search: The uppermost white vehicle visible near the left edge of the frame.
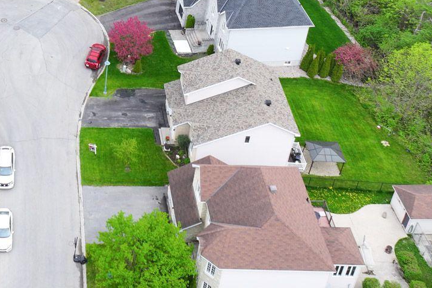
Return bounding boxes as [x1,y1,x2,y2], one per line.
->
[0,149,18,191]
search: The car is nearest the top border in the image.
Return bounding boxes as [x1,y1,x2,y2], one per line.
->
[82,43,108,73]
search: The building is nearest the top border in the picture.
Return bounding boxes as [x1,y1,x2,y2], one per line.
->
[173,0,315,70]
